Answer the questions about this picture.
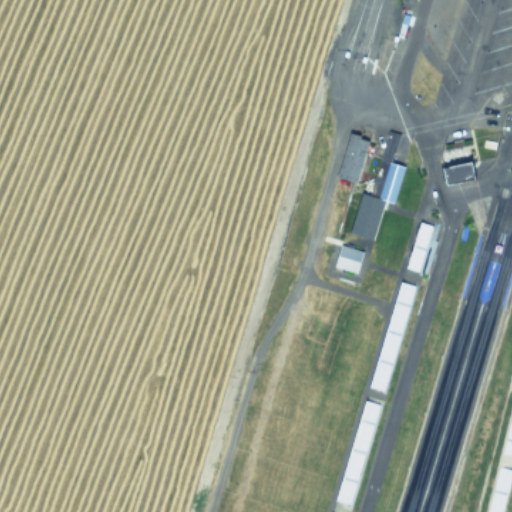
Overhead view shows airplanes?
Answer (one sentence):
No, I can see no airplane in this picture.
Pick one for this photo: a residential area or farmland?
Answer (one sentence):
This looks like farmland.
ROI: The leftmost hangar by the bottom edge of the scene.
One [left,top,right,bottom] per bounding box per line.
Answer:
[338,401,382,507]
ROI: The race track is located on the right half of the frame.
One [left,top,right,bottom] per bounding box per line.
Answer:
[402,186,512,512]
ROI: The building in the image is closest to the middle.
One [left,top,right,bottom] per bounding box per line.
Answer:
[336,246,365,274]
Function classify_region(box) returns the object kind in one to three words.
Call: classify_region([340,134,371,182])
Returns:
shed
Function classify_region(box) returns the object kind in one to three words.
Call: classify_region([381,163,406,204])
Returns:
building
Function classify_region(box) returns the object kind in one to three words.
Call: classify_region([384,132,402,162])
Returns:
building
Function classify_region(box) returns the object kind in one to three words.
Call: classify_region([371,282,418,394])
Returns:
hangar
